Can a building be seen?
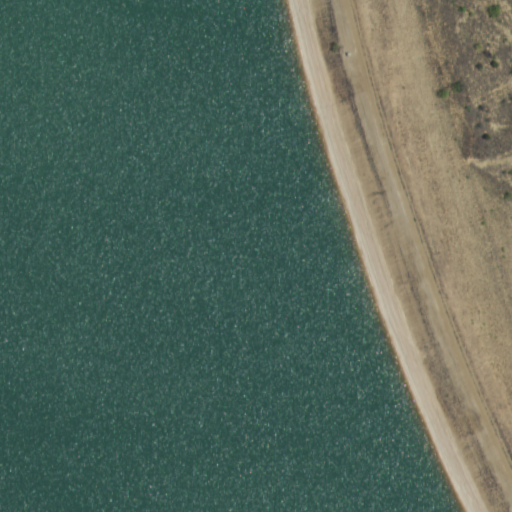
No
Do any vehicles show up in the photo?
No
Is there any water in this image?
Yes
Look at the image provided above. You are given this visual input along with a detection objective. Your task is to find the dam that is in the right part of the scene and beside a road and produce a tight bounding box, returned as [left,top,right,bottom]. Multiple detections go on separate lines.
[286,0,509,512]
